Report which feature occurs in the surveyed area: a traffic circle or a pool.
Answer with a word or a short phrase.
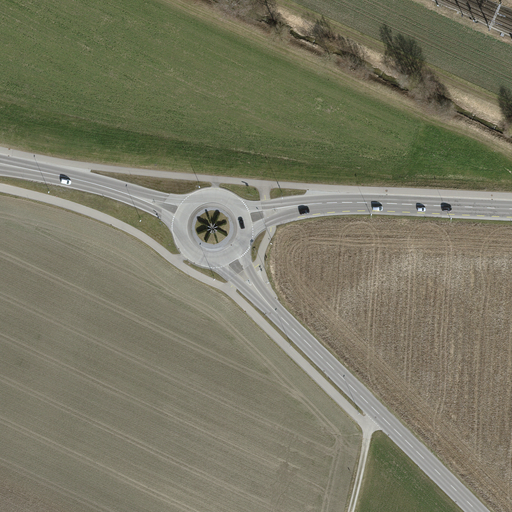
traffic circle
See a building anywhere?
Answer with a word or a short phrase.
No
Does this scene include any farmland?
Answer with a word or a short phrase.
Yes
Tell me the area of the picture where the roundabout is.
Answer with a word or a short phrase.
center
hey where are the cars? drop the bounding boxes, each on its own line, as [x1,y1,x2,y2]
[416,207,426,212]
[60,179,72,185]
[372,206,383,211]
[442,207,453,212]
[299,208,310,214]
[239,218,245,230]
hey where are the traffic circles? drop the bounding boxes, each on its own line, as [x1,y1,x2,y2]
[161,187,267,272]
